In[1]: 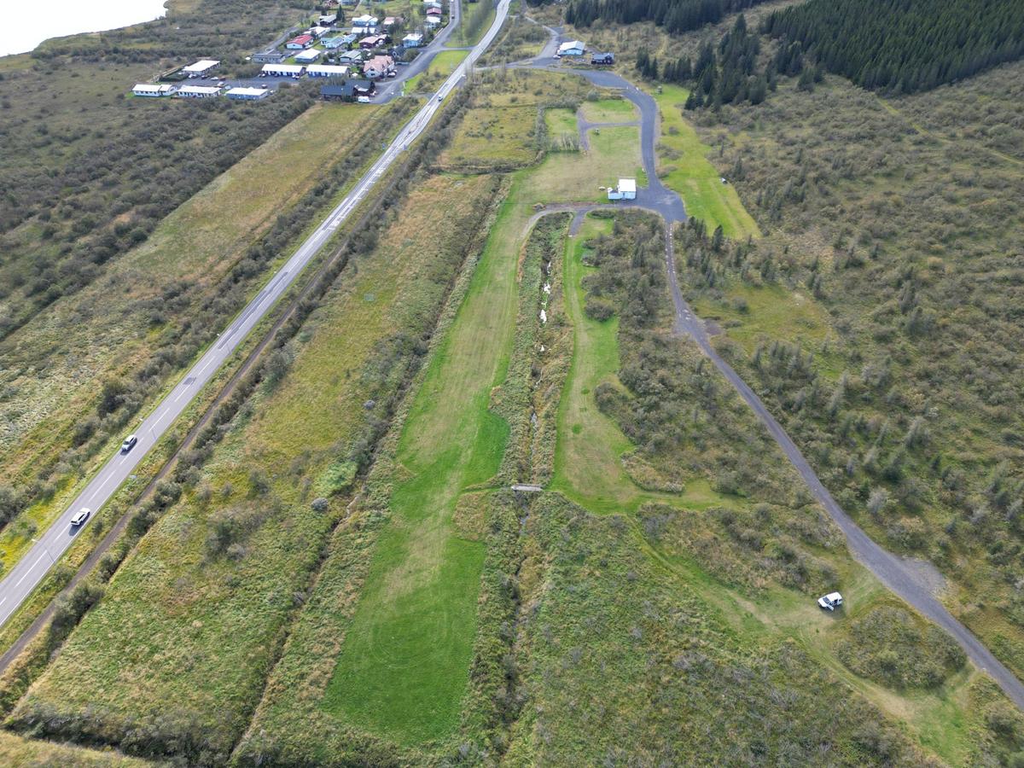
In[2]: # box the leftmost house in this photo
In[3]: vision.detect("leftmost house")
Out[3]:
[130,84,180,97]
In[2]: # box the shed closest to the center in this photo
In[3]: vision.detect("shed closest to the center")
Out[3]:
[606,181,637,200]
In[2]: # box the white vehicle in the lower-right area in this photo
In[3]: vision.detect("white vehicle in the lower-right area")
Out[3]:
[818,591,844,610]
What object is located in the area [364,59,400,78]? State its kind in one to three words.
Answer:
house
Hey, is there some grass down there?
Yes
